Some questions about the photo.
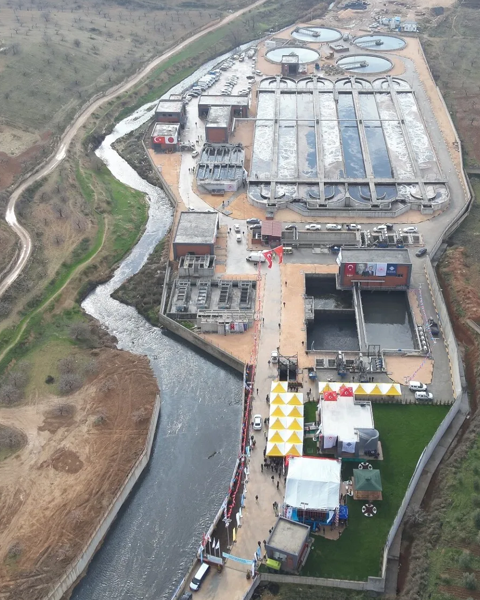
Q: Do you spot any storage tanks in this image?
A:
Yes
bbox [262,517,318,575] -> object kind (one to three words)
building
